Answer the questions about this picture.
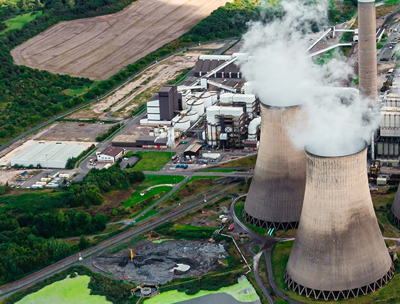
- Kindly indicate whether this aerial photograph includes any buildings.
Yes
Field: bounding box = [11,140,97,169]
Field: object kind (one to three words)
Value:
building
